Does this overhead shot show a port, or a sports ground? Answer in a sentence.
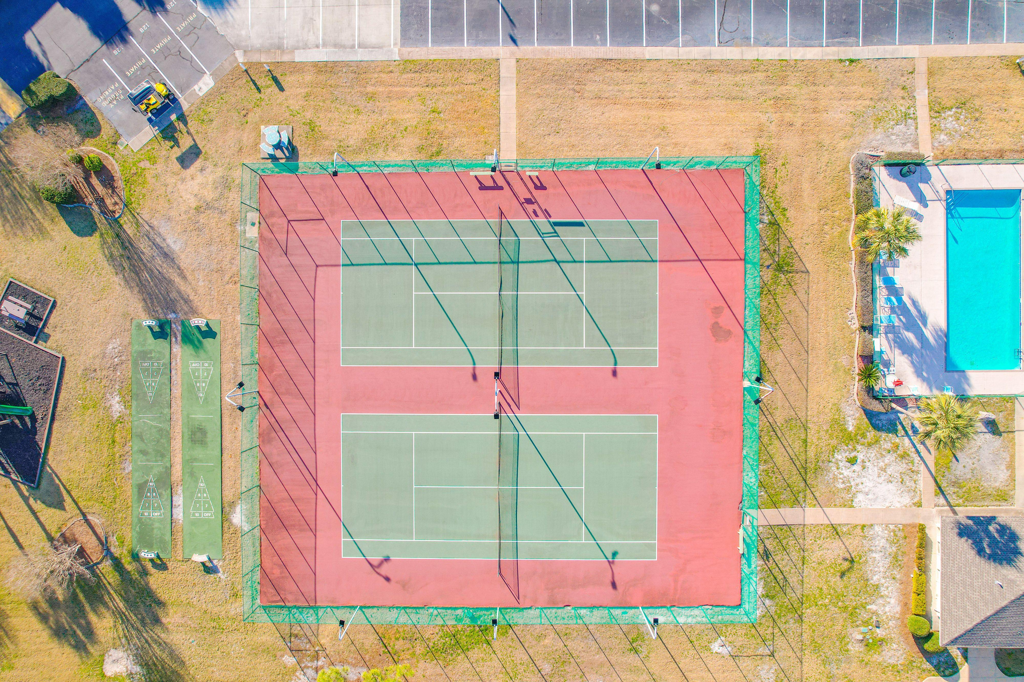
The picture captures a sports ground.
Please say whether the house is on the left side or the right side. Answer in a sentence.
The house is on the right side of the image.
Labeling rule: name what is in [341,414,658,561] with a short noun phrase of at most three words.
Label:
tennis court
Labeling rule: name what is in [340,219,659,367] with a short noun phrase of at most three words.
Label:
tennis court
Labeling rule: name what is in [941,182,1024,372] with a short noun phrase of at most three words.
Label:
swimming pool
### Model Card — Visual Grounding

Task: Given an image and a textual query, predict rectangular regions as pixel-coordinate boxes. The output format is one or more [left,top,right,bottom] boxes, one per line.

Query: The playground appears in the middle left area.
[0,278,63,487]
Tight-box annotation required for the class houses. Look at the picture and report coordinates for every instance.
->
[938,515,1024,647]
